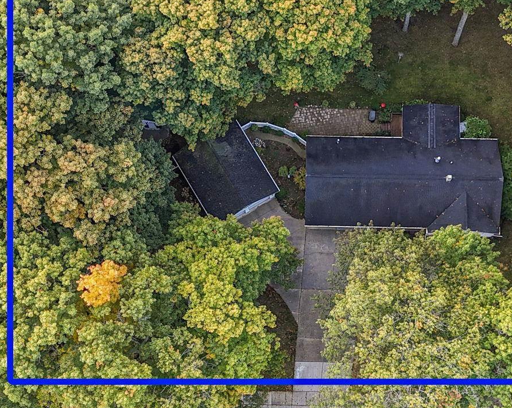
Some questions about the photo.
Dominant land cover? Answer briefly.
trees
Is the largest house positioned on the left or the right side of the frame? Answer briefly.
right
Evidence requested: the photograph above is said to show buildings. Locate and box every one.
[305,103,505,240]
[173,122,280,226]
